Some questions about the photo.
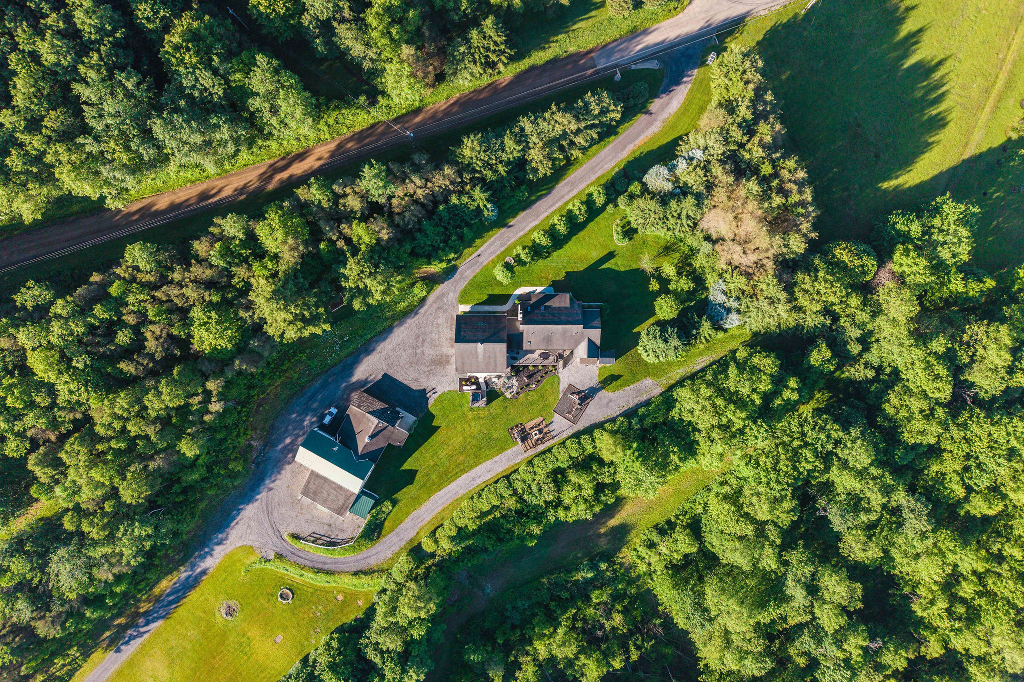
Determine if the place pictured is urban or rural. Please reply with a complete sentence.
It looks rural.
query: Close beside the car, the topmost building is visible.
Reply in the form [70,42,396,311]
[336,390,409,464]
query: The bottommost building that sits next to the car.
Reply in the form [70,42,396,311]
[295,428,378,519]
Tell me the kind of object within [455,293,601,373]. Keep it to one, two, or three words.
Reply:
house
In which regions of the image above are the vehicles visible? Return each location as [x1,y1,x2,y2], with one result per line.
[321,406,337,427]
